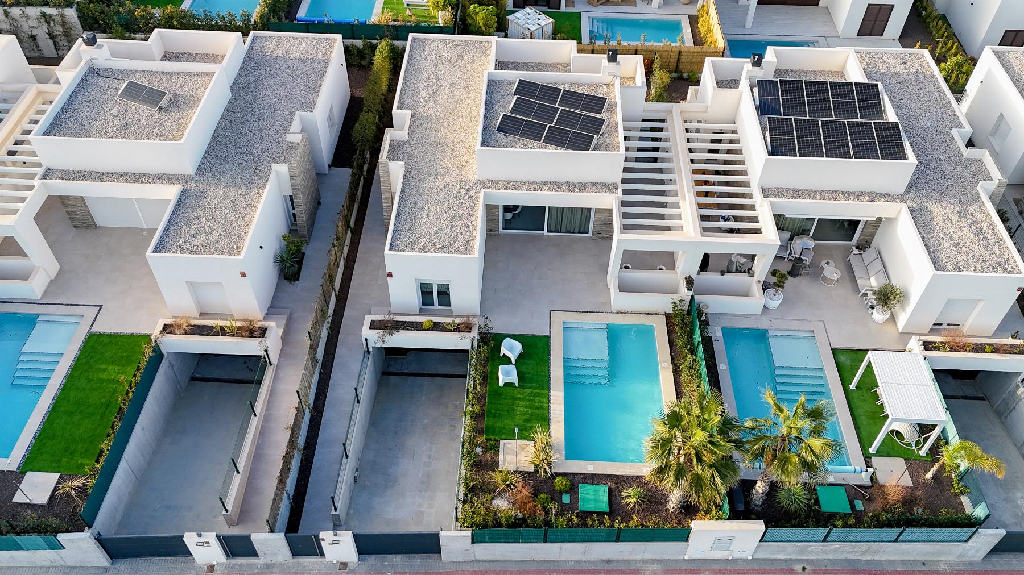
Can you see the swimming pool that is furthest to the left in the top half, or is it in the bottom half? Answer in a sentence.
The swimming pool that is furthest to the left is in the bottom half of the image.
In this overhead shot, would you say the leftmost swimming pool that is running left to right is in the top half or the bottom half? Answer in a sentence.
Seen from above, the leftmost swimming pool that is running left to right lies in the top half of the view.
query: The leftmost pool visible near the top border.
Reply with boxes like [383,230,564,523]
[178,0,263,21]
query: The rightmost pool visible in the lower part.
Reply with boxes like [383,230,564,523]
[706,317,872,486]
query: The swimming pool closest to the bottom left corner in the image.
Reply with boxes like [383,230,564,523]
[0,303,100,472]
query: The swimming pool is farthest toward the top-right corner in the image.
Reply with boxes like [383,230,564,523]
[726,34,831,59]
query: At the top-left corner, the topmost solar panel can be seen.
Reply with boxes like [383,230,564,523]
[117,78,169,109]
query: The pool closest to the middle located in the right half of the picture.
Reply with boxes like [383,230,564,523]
[550,310,681,477]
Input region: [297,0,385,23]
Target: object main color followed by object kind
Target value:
blue swimming pool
